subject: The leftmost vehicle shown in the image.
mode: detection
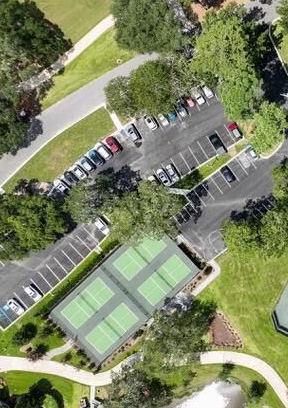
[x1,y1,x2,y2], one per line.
[9,298,26,315]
